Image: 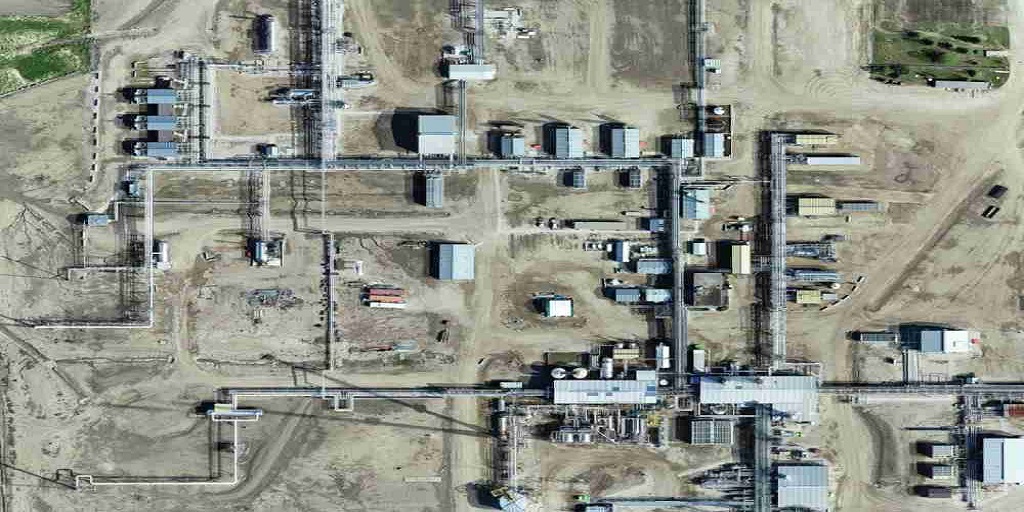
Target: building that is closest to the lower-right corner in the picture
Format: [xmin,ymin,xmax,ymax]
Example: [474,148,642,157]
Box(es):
[983,437,1024,487]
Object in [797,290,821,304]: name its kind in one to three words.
shed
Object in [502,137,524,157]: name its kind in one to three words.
building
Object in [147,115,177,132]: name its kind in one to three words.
shed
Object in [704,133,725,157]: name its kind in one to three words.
building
